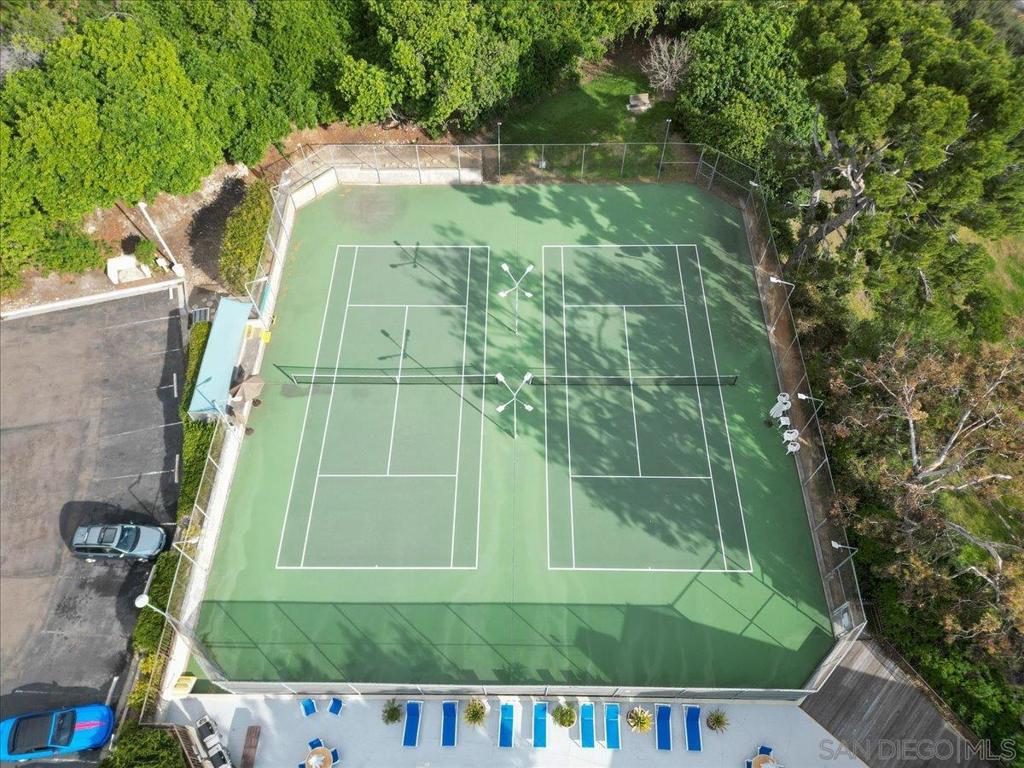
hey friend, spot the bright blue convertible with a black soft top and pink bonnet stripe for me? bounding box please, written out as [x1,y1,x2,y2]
[0,705,115,767]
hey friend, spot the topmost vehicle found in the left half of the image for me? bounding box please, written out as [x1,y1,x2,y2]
[68,521,165,563]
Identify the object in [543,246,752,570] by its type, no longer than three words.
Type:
tennis court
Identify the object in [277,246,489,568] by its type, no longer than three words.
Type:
tennis court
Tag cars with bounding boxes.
[0,705,115,767]
[68,521,165,563]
